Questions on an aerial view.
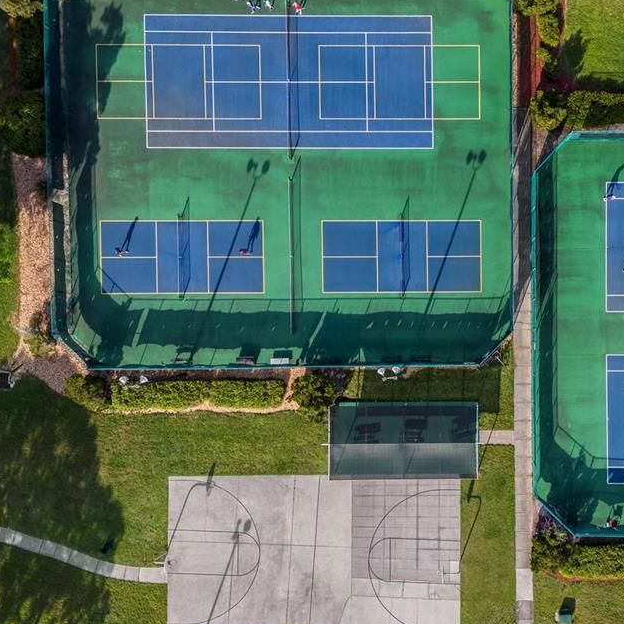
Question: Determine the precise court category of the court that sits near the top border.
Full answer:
From above, the court that sits near the top border can be identified as a tennis court.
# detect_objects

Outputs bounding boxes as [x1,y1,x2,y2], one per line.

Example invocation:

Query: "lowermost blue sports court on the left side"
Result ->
[99,220,265,294]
